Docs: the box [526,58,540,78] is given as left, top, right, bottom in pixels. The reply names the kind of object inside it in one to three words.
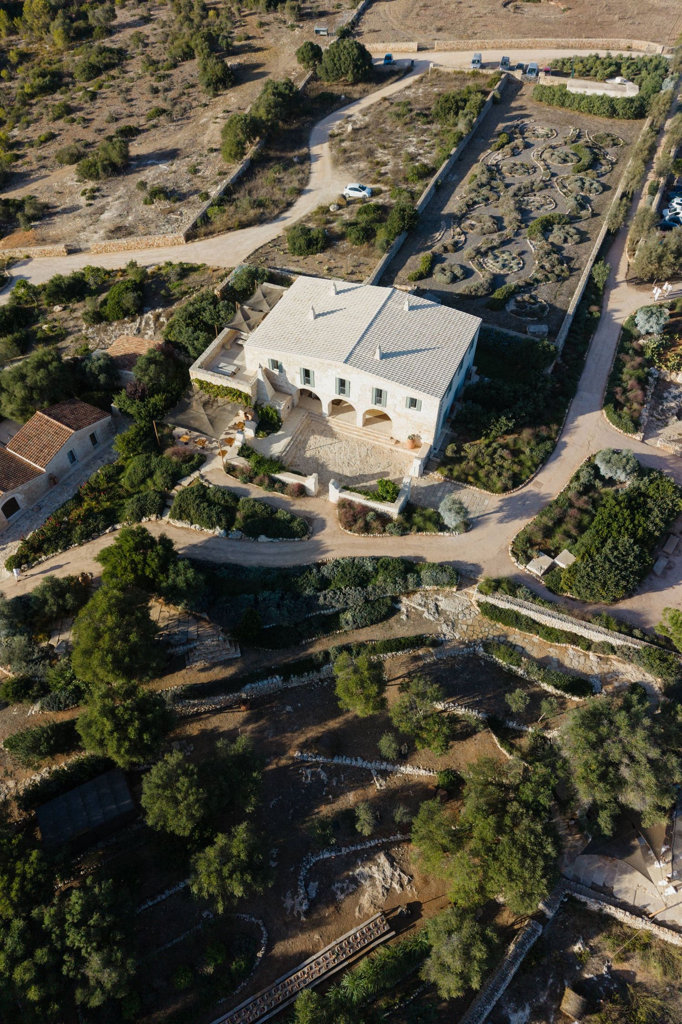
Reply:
vehicle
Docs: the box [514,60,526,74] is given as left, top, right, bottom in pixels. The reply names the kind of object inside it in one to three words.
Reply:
vehicle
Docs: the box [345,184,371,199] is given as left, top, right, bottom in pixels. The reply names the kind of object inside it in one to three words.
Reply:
car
